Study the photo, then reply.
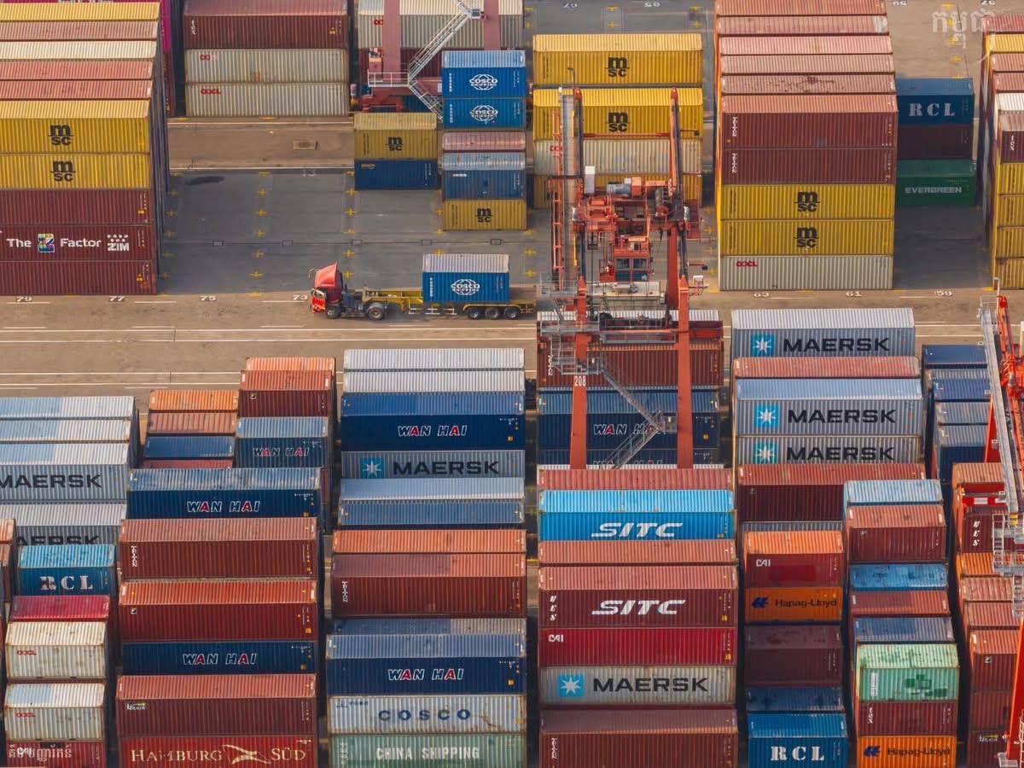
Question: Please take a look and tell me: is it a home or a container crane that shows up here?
container crane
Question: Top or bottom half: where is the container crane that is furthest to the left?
top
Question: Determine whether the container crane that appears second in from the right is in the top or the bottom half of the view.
top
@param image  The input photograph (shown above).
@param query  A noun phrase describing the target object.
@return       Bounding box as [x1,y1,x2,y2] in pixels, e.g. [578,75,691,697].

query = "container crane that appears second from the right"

[533,65,728,469]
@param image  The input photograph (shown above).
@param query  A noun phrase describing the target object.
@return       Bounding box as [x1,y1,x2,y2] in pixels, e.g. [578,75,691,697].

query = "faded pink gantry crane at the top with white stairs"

[360,0,527,130]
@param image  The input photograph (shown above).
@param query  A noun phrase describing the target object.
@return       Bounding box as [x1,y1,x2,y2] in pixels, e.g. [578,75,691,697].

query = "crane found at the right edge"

[958,262,1024,768]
